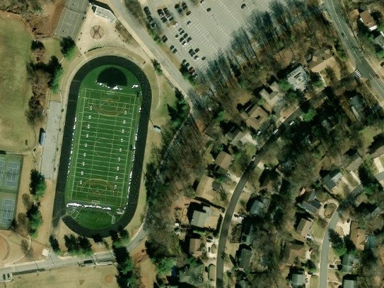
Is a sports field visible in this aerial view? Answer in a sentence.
Yes, a sports field can be made out from above.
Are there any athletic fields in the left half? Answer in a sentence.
Yes, the scene does show an athletic field in the left half.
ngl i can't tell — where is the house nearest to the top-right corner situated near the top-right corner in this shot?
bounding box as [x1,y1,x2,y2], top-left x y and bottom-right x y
[357,7,380,32]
